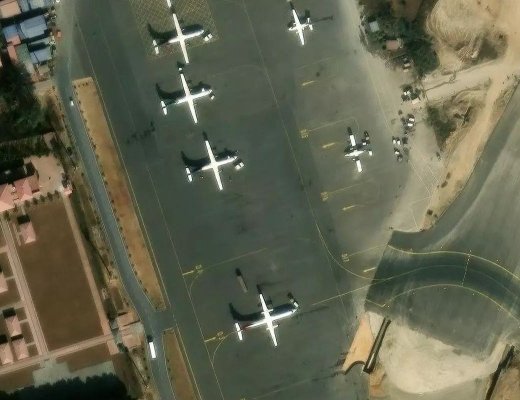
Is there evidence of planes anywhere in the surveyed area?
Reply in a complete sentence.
Yes, the photo shows a plane.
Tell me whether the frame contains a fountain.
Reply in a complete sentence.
No, I can't see a single fountain in this photo.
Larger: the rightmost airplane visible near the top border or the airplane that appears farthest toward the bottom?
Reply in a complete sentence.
The airplane that appears farthest toward the bottom covers a greater area than the rightmost airplane visible near the top border.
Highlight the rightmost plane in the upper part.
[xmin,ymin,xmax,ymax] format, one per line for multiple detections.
[344,134,372,172]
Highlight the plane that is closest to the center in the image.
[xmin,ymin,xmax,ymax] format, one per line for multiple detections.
[186,141,236,190]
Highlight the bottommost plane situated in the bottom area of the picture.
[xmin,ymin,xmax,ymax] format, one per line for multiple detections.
[236,295,296,345]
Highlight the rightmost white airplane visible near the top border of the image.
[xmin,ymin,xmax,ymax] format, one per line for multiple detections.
[288,9,314,46]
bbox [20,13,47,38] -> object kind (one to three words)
house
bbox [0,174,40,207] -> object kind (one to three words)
house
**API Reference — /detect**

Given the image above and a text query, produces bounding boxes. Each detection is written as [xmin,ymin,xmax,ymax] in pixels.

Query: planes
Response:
[344,134,372,172]
[236,295,296,345]
[153,14,204,64]
[161,74,211,123]
[186,141,236,190]
[288,9,314,46]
